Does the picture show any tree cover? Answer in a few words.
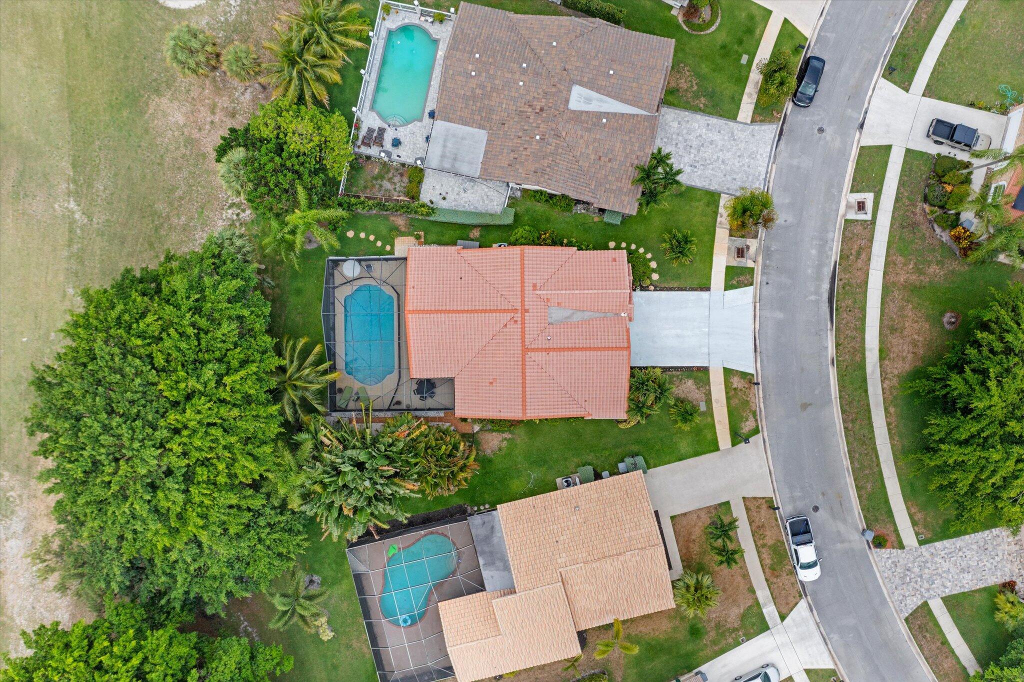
Yes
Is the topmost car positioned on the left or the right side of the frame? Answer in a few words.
right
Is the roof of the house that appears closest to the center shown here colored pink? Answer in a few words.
Yes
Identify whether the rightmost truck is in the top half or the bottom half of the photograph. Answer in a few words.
top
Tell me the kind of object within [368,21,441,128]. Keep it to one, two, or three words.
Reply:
swimming pool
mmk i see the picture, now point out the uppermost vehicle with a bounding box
[794,54,827,109]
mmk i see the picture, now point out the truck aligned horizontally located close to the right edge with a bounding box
[923,116,993,156]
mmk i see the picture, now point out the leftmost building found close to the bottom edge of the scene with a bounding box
[437,470,677,682]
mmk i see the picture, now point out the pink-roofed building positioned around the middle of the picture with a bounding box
[403,244,635,421]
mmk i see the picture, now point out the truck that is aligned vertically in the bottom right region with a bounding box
[787,514,822,583]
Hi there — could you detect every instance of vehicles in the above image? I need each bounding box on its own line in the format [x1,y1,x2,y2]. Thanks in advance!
[787,514,822,583]
[733,663,782,682]
[923,116,993,156]
[794,54,827,109]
